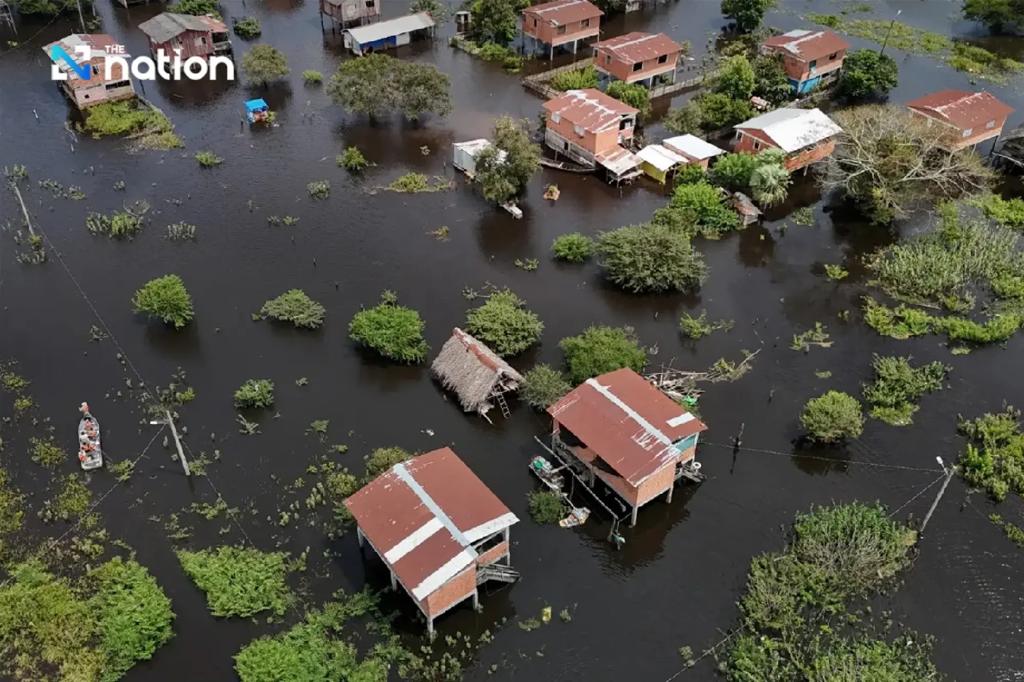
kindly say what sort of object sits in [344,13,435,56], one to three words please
barn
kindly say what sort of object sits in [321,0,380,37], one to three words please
house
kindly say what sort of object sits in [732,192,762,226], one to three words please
shed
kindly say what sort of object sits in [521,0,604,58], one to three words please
house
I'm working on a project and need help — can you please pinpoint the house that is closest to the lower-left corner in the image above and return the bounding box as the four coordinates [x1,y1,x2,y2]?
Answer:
[343,446,528,637]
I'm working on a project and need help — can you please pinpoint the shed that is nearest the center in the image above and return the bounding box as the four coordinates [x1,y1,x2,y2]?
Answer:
[428,327,526,429]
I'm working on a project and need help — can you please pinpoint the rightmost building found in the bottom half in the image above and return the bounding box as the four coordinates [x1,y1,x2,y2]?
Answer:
[548,367,710,525]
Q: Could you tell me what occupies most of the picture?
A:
water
